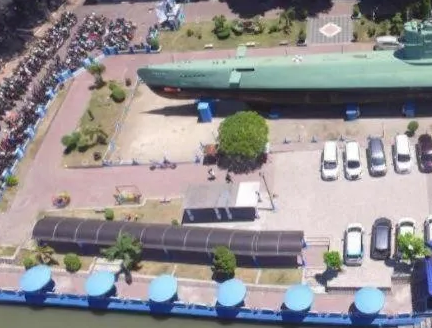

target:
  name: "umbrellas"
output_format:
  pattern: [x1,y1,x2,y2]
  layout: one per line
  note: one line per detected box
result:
[23,266,56,295]
[216,280,248,310]
[284,285,314,315]
[148,276,178,304]
[85,271,117,300]
[355,288,384,317]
